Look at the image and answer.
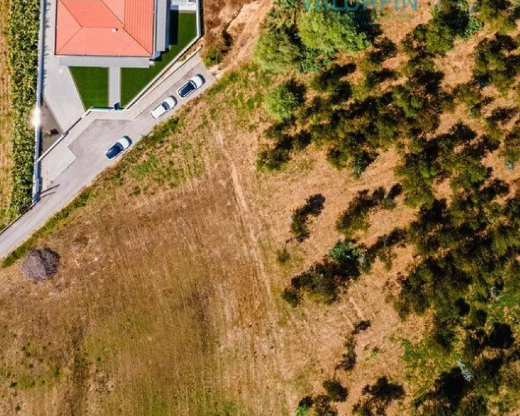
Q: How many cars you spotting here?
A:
3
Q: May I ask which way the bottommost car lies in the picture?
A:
at an angle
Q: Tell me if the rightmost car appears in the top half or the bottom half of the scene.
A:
top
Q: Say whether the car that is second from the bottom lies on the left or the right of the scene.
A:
left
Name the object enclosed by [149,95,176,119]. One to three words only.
car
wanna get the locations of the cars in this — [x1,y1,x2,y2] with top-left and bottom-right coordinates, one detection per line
[104,136,133,159]
[149,95,176,119]
[177,74,204,98]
